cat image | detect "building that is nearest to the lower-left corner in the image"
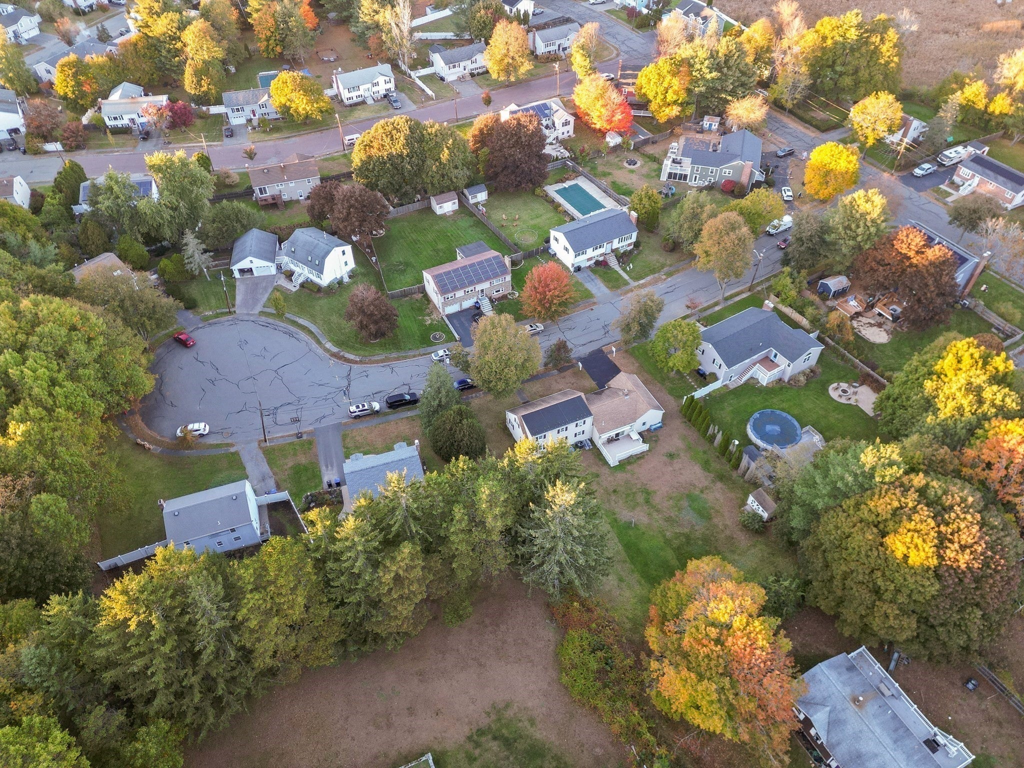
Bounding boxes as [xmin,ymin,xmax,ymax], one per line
[155,480,272,555]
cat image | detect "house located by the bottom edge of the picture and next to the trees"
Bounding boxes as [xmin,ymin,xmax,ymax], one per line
[802,644,980,768]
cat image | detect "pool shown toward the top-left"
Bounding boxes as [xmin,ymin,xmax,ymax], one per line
[257,70,282,87]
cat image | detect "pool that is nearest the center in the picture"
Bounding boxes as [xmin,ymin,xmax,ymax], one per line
[553,182,607,216]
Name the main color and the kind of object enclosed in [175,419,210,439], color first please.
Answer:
white car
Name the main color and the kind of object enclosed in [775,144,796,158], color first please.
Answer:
gray car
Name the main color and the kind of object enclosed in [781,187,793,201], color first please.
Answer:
white vehicle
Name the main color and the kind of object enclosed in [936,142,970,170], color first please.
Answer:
white camper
